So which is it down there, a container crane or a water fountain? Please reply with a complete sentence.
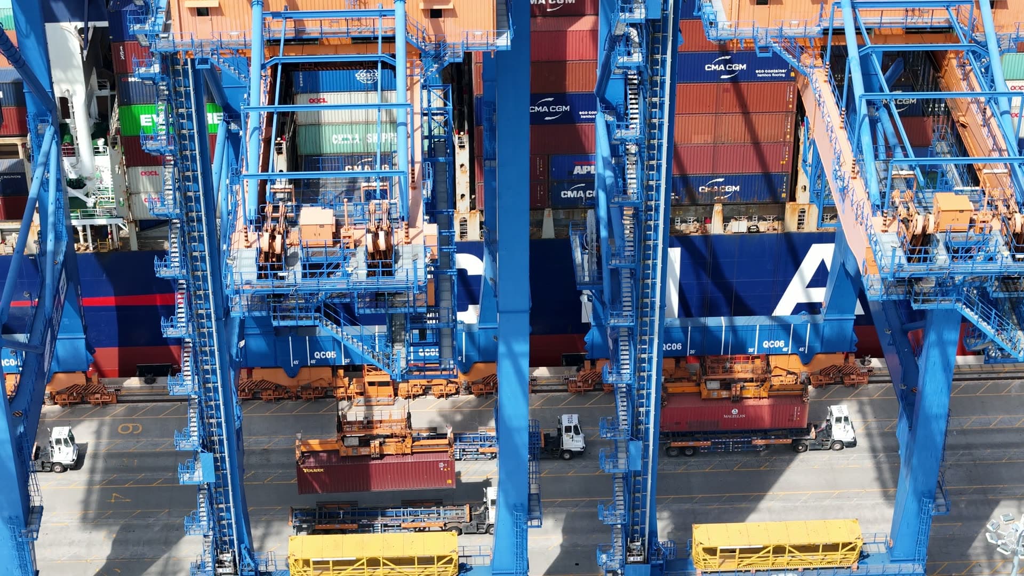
It is a container crane that can be seen here.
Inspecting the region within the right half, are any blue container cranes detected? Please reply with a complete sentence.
Yes, a blue container crane is visible within the right half.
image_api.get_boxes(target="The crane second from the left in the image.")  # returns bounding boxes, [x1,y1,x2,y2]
[124,0,546,576]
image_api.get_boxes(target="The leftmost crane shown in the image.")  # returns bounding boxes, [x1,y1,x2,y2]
[0,0,120,576]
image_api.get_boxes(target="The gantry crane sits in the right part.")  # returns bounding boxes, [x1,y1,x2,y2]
[567,0,1024,576]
